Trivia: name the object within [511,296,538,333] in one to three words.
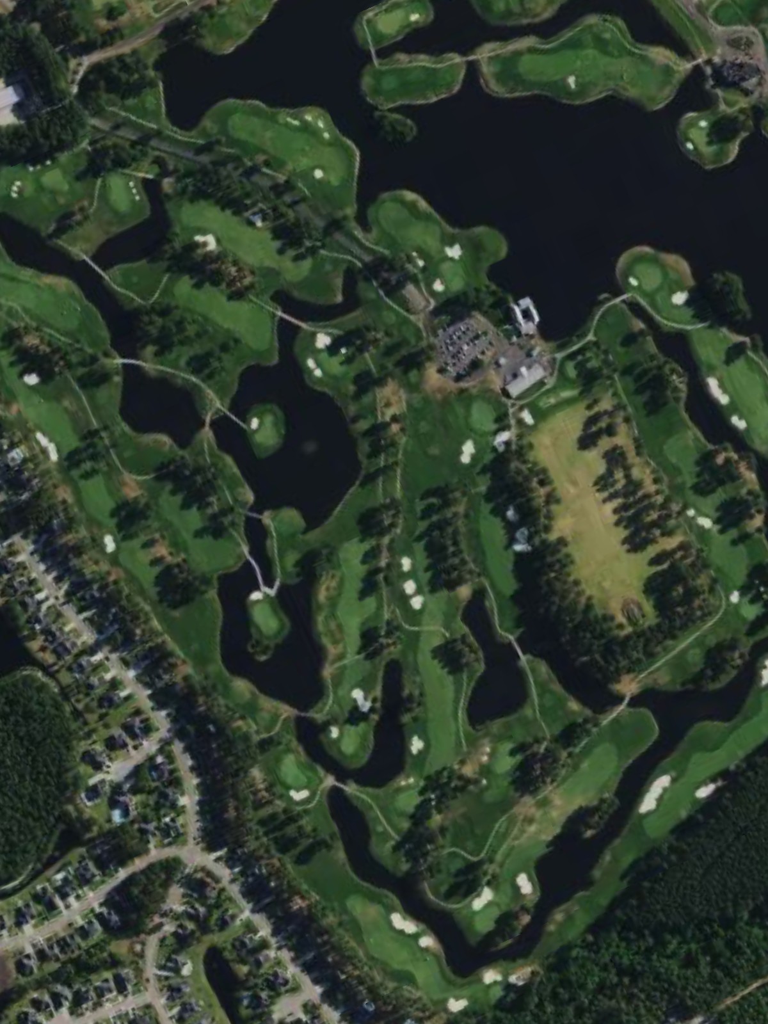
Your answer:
building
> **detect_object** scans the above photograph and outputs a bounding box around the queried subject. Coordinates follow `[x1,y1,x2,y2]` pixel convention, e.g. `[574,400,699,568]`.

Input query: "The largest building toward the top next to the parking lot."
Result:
[501,359,547,397]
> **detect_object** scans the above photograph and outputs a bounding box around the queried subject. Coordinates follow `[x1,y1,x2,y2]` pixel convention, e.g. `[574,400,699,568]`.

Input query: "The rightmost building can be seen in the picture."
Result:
[713,59,763,91]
